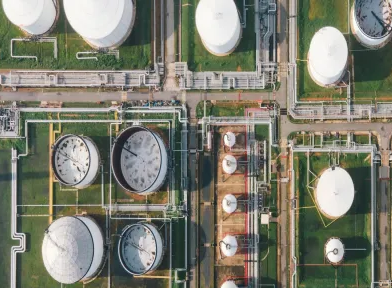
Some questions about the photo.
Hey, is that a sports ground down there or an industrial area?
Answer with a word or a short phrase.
industrial area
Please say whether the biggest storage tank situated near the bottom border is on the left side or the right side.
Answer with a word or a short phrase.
left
